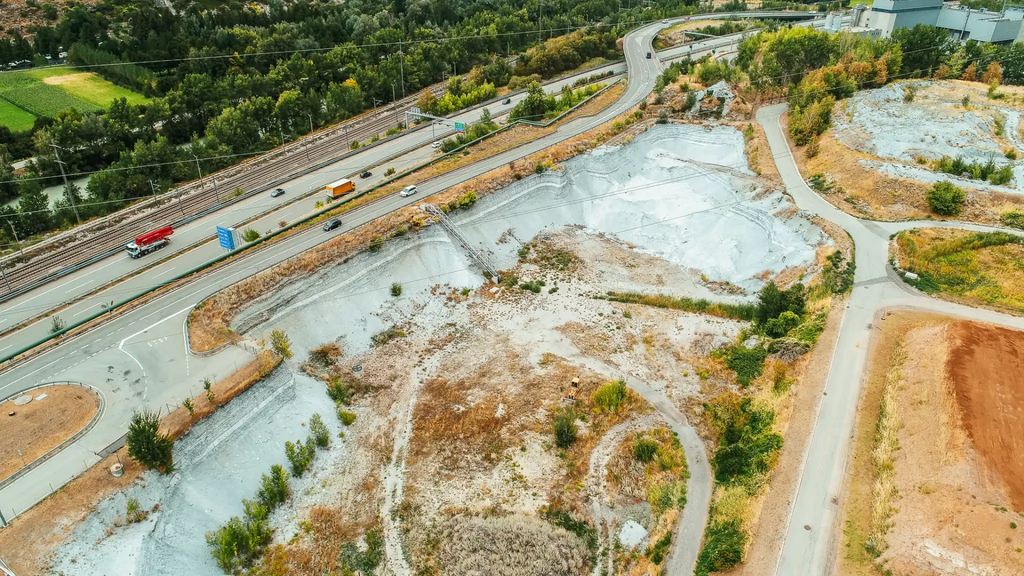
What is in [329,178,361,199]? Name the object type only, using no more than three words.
truck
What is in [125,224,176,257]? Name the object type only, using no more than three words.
truck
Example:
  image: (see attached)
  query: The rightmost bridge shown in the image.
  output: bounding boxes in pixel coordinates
[614,11,838,105]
